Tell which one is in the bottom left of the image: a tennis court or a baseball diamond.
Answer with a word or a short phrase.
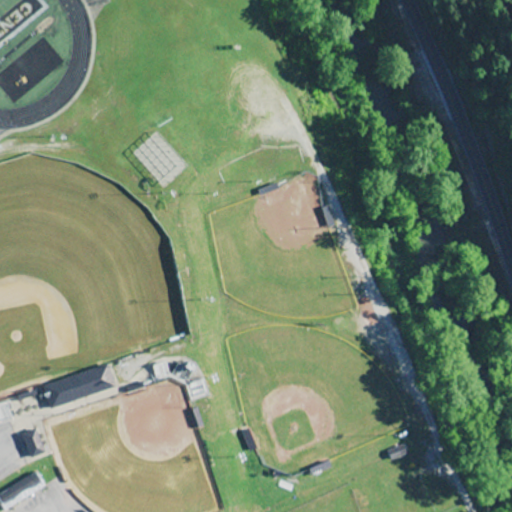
baseball diamond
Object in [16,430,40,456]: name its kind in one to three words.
shed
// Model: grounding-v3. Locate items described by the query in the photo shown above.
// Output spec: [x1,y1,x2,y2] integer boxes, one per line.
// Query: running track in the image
[0,0,93,128]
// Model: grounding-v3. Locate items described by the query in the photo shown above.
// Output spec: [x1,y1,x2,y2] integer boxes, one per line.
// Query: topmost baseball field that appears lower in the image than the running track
[0,154,186,398]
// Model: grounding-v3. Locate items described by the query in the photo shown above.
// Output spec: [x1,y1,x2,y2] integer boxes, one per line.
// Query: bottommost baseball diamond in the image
[46,378,223,512]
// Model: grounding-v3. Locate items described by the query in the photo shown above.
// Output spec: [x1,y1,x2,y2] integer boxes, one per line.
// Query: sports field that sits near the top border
[0,0,74,108]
